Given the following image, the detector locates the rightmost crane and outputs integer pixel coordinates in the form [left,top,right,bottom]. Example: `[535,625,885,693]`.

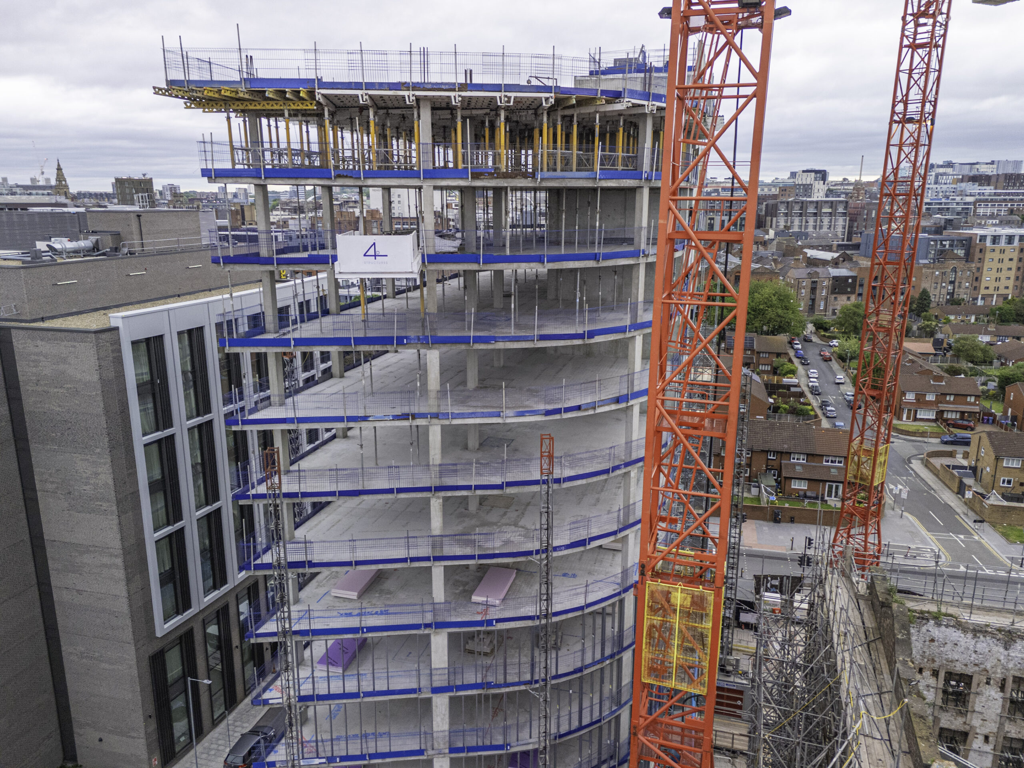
[824,0,951,578]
